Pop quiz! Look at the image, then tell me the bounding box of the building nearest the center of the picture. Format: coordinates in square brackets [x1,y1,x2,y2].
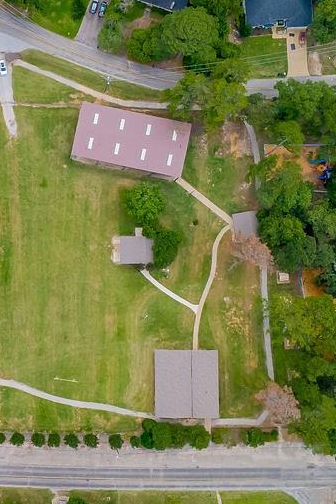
[112,228,153,265]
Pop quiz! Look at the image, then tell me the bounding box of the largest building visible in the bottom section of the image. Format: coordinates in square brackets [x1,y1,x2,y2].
[153,350,219,419]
